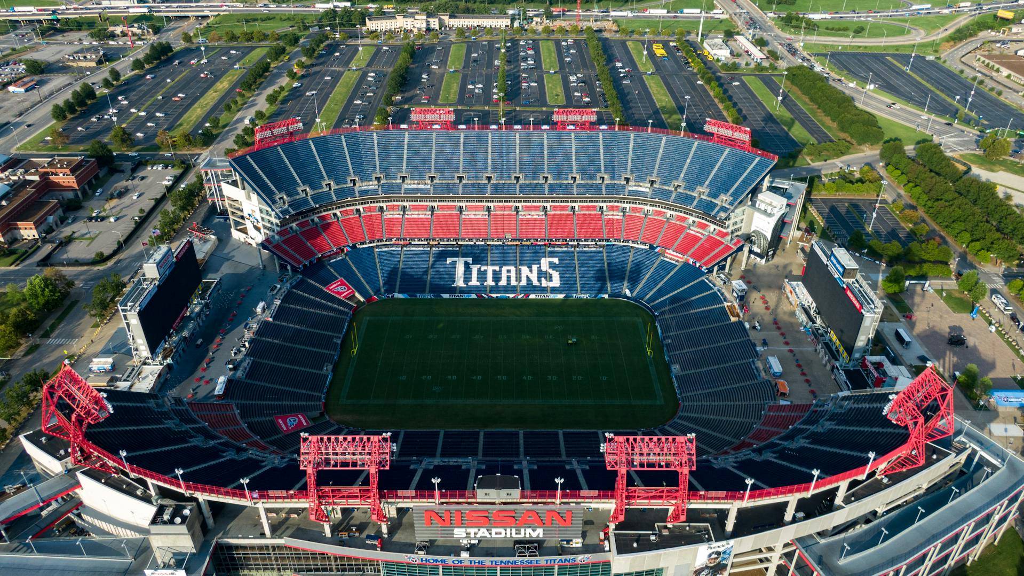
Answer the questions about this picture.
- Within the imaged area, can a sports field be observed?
Yes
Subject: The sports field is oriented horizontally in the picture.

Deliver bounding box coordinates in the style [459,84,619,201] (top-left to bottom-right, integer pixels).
[323,299,680,428]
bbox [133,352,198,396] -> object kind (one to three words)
building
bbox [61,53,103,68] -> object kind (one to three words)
building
